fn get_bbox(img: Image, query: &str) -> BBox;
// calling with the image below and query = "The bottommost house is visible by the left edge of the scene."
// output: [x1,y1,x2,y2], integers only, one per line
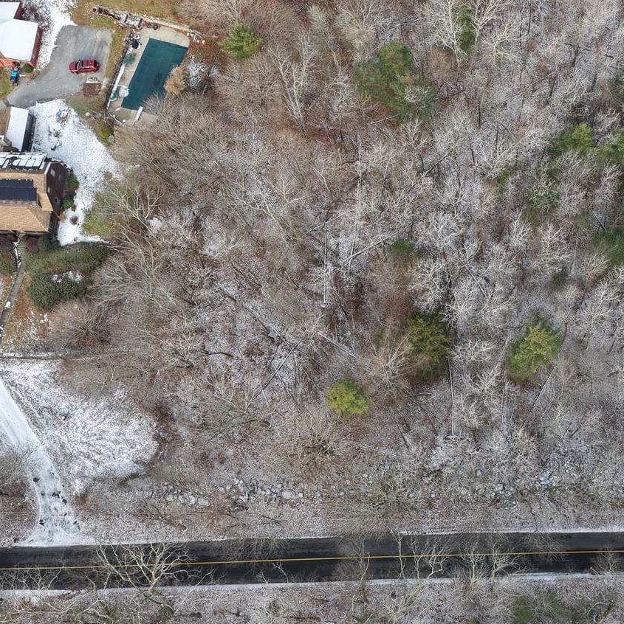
[0,152,70,238]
